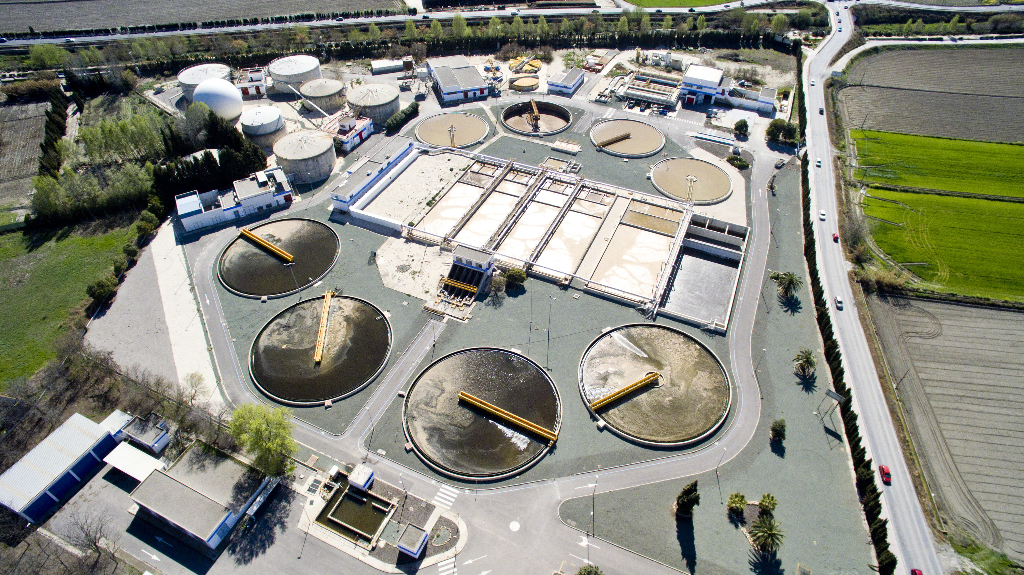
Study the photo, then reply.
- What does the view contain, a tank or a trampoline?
tank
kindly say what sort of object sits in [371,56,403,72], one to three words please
shed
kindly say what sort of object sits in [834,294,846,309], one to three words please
vehicle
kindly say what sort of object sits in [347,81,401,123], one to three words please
storage tank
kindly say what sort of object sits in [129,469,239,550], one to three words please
building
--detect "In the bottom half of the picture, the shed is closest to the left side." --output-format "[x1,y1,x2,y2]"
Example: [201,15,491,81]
[0,412,119,524]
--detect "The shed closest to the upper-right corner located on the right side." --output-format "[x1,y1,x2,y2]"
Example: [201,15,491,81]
[754,89,777,112]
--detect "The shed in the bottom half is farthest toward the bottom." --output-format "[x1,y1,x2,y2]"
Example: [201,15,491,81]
[397,523,430,559]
